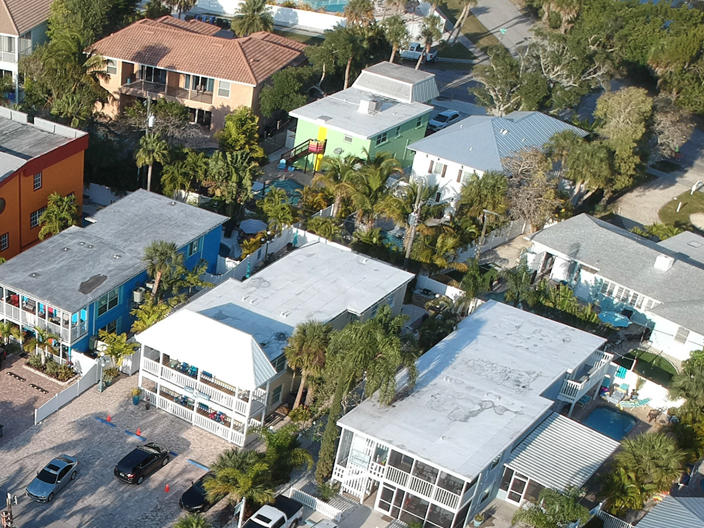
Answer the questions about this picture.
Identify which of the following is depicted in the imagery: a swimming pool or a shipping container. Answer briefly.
swimming pool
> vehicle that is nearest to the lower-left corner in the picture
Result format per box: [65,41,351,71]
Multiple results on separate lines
[26,455,81,497]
